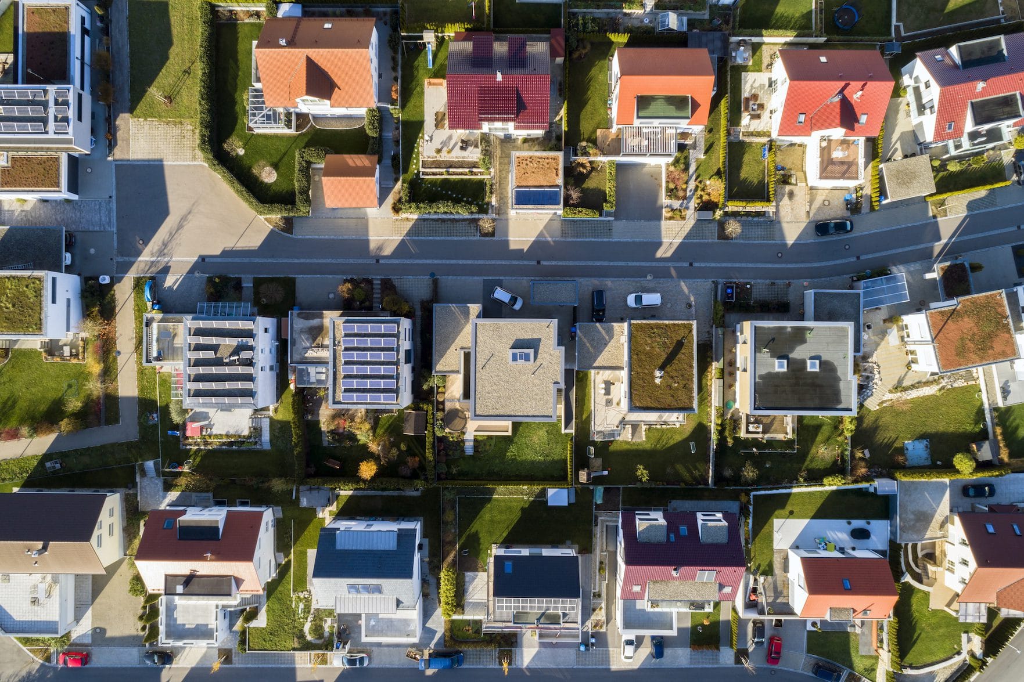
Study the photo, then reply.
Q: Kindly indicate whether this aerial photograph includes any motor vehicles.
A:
Yes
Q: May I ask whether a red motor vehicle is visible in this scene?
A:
Yes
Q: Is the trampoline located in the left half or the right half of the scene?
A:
right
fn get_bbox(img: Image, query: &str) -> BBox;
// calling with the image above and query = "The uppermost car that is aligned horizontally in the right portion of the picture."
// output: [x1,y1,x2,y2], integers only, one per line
[815,218,854,235]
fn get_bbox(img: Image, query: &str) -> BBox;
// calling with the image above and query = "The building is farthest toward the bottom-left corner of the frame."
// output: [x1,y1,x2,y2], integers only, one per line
[0,488,126,637]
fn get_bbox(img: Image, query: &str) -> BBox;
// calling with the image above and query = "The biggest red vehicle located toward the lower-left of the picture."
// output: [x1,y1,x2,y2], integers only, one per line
[58,652,89,670]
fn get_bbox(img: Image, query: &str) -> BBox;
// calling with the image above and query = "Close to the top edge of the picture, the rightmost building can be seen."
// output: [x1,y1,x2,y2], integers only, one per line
[893,33,1024,159]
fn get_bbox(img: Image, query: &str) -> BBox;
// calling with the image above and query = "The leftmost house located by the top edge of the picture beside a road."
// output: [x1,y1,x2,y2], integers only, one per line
[0,0,95,148]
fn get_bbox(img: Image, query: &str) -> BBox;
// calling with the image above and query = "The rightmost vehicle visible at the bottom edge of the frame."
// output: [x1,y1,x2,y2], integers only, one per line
[809,660,846,682]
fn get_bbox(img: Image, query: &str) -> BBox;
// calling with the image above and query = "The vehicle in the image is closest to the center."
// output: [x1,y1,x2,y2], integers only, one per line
[489,284,524,312]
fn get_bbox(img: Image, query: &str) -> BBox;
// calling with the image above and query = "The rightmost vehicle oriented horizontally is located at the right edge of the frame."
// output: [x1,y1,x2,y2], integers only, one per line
[961,483,997,500]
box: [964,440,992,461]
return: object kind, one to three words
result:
shed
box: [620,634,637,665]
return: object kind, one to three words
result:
car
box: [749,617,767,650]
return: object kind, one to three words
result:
car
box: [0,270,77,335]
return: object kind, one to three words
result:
house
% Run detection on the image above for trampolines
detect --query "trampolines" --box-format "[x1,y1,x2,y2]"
[833,0,863,31]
